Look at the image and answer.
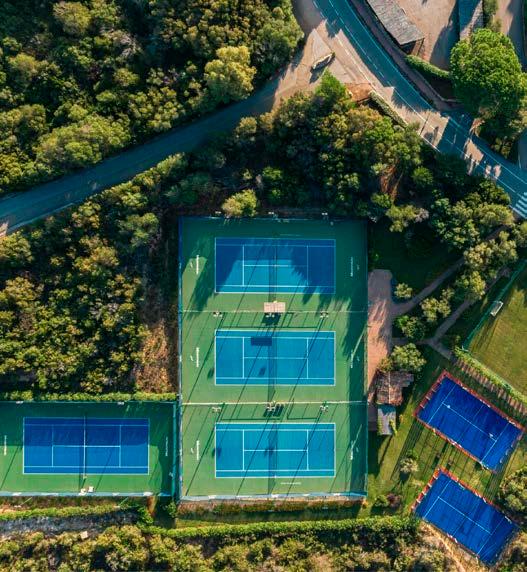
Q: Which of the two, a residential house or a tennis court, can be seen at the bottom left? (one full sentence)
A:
There is a tennis court at the bottom left.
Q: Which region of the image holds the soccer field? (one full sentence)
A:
Look in the right portion of the view to spot the soccer field.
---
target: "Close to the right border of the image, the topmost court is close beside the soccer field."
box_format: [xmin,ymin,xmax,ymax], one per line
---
[416,374,527,475]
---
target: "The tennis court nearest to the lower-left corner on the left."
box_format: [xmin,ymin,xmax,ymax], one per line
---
[0,406,177,488]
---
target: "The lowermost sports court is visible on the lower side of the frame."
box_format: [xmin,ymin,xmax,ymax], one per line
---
[412,469,526,572]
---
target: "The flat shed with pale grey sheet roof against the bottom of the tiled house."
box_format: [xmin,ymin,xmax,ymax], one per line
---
[377,404,396,434]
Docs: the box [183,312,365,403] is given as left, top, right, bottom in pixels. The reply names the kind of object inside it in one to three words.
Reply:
tennis court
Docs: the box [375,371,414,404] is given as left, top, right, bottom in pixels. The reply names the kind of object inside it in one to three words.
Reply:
house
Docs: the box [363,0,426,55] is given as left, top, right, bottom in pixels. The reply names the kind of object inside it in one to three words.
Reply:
shed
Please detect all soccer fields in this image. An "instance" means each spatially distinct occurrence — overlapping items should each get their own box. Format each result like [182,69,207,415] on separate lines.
[466,260,527,394]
